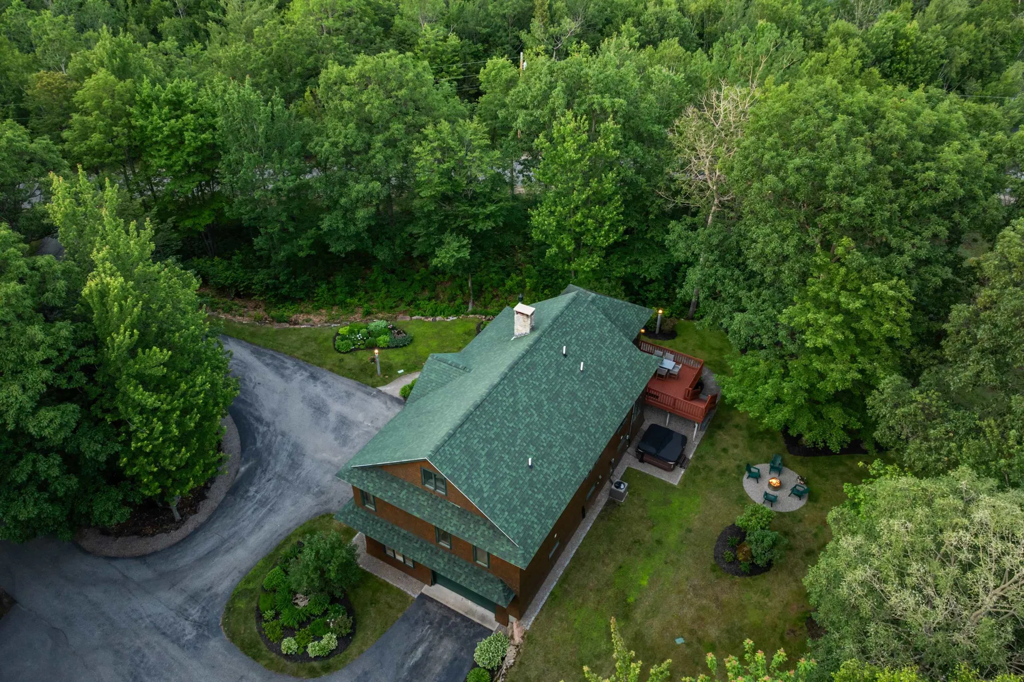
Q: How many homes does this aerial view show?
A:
1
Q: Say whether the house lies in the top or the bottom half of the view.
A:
bottom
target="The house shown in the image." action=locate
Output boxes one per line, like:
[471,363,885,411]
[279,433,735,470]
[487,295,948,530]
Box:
[333,283,660,626]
